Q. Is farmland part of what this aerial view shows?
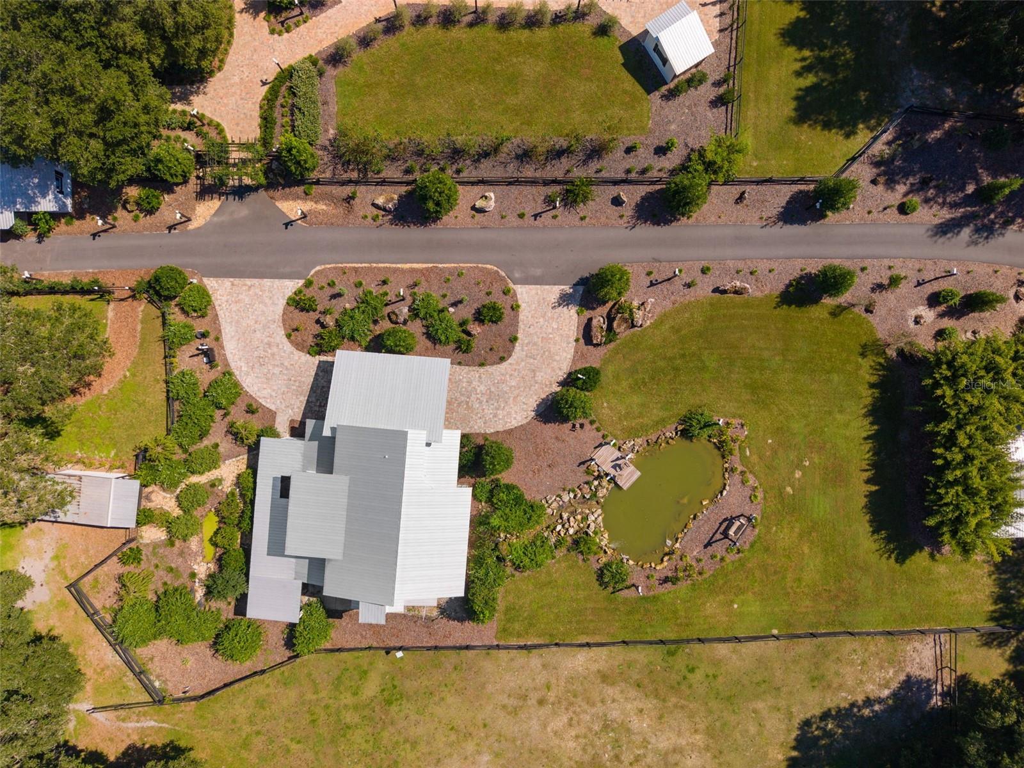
Yes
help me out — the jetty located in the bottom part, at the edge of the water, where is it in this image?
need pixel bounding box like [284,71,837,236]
[591,445,641,490]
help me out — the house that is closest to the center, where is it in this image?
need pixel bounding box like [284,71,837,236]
[246,349,473,624]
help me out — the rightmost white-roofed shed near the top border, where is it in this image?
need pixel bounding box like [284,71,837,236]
[644,0,715,82]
